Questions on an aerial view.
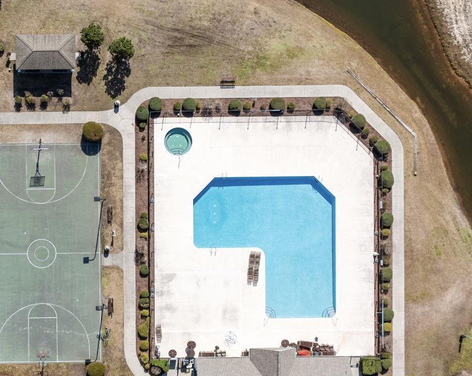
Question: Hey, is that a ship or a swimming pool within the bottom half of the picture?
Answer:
swimming pool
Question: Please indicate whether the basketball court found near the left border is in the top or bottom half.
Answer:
bottom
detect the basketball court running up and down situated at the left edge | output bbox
[0,144,102,364]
